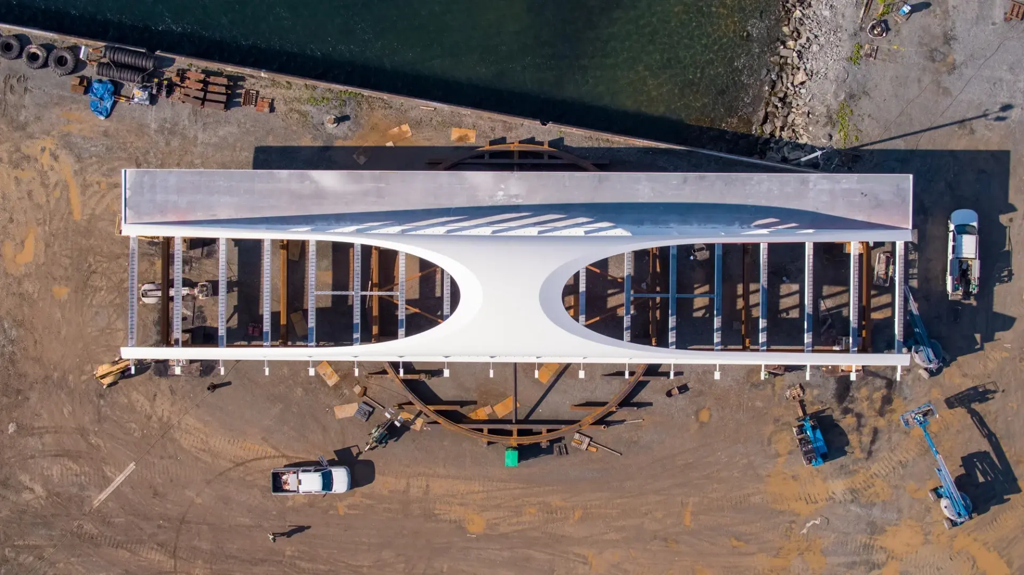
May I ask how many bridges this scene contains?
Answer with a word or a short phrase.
1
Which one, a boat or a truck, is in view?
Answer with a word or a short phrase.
truck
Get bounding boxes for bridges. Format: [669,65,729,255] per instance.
[115,170,917,380]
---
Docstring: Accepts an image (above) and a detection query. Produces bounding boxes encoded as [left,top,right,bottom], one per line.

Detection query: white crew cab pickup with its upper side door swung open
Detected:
[270,453,352,495]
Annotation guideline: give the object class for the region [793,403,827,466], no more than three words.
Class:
work vehicle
